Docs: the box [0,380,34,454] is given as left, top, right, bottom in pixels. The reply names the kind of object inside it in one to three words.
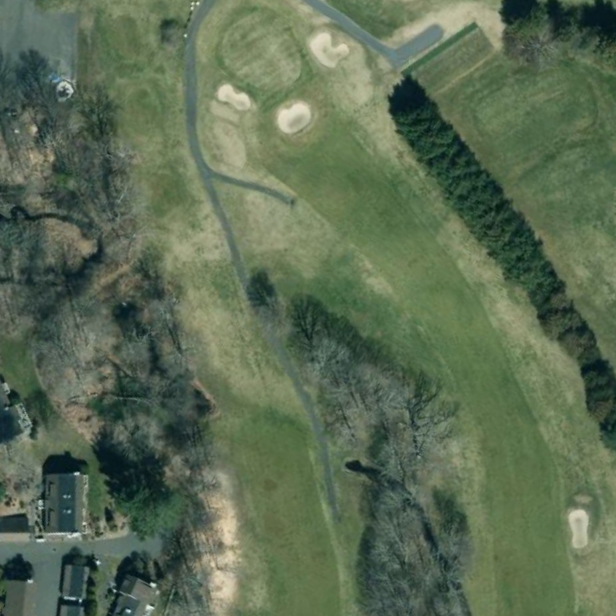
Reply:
house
